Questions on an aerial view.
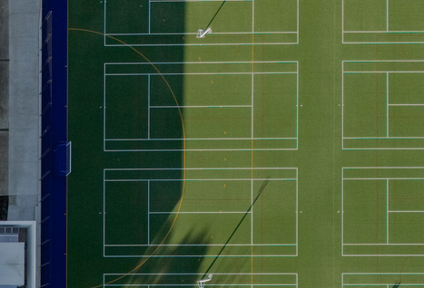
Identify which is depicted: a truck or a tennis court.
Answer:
tennis court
